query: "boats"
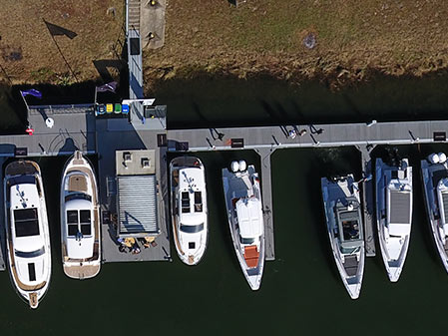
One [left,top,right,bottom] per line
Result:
[223,148,267,289]
[1,155,52,309]
[169,153,210,265]
[421,152,448,275]
[375,148,411,281]
[59,151,101,279]
[321,146,366,298]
